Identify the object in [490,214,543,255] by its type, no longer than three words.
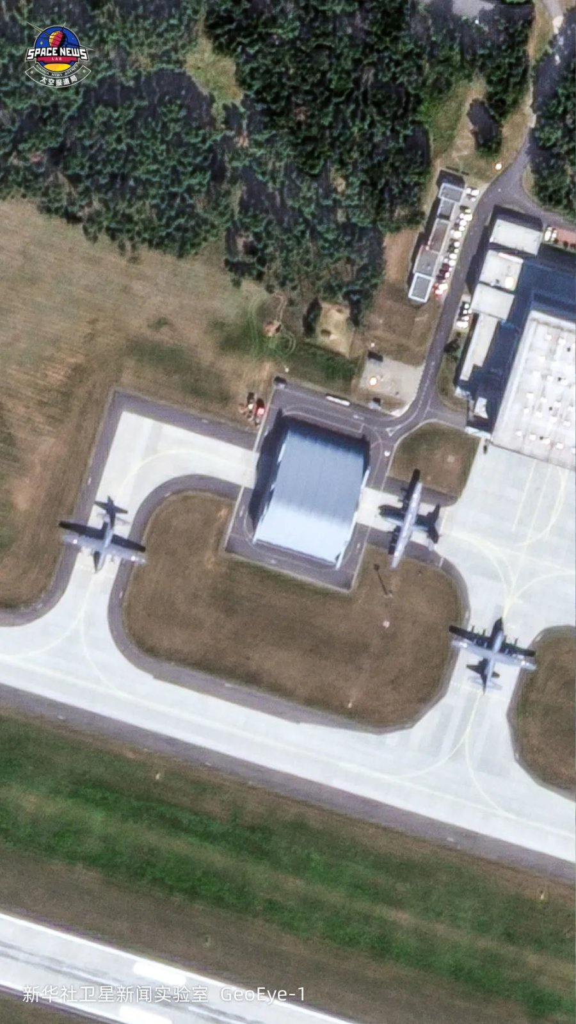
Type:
building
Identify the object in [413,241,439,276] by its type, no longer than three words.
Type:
building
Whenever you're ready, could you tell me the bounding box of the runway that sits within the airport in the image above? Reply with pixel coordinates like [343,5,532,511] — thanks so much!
[0,914,349,1024]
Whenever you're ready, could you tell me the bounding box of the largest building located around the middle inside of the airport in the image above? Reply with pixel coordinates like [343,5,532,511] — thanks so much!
[252,418,371,568]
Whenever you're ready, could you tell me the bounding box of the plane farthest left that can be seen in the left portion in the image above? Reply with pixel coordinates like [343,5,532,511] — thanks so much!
[62,512,147,571]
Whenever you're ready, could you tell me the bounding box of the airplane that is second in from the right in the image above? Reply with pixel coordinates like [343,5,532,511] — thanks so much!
[381,484,445,568]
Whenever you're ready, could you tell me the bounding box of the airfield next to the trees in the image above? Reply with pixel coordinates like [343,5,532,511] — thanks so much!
[0,380,576,1024]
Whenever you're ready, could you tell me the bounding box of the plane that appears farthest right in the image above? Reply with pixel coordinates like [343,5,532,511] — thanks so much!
[453,628,536,695]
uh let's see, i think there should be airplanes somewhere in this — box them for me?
[453,628,536,695]
[62,512,147,571]
[381,484,445,568]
